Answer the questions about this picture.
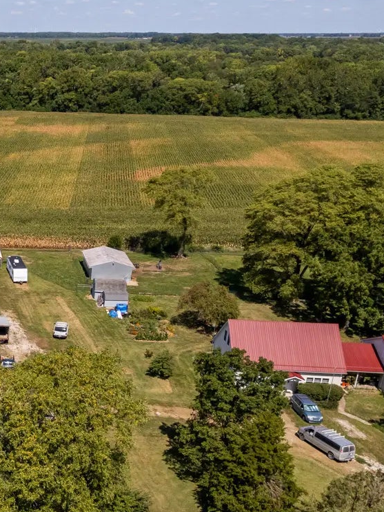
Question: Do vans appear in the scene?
Yes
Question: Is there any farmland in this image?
Yes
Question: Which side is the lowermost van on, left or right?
right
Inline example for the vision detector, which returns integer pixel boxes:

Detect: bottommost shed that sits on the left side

[88,278,132,307]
